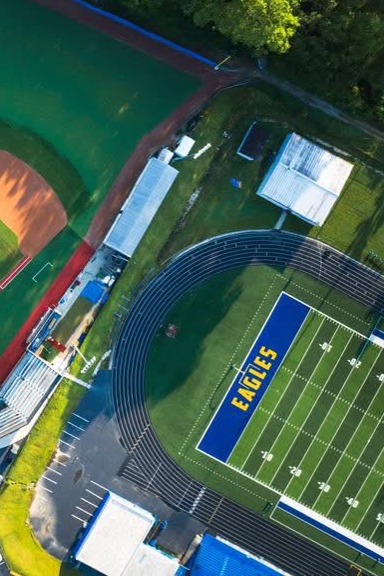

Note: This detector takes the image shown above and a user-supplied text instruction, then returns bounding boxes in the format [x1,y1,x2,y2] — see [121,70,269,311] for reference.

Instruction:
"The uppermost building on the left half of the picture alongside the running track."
[102,159,180,256]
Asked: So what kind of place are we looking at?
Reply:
sports ground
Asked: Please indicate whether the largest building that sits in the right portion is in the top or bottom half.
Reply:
top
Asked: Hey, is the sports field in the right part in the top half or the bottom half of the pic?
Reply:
bottom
